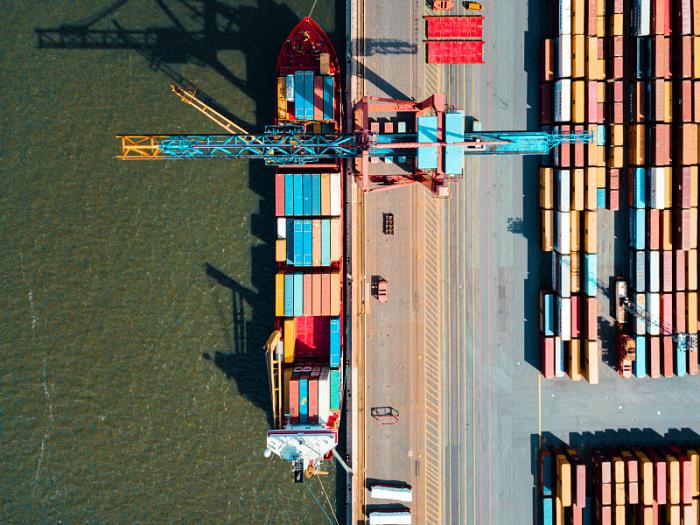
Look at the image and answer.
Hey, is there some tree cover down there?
No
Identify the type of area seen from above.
port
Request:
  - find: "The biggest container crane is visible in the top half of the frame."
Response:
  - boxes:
[111,94,597,204]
